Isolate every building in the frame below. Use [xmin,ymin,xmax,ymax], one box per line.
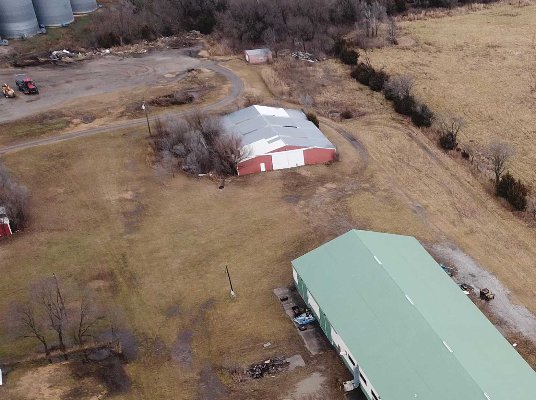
[206,105,337,176]
[247,50,270,65]
[289,228,536,400]
[0,212,11,235]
